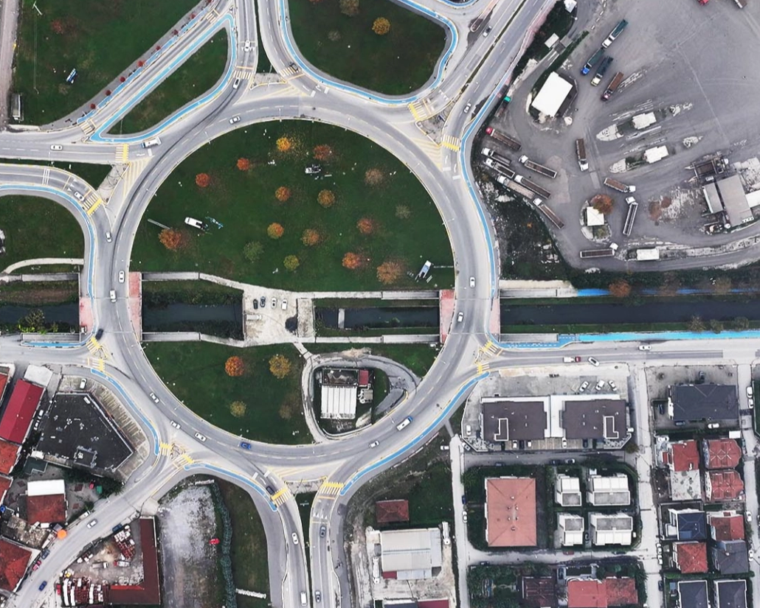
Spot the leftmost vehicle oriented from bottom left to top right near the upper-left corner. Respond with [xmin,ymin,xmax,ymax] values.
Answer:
[64,67,79,84]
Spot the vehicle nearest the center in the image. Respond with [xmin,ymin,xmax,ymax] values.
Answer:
[419,260,432,278]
